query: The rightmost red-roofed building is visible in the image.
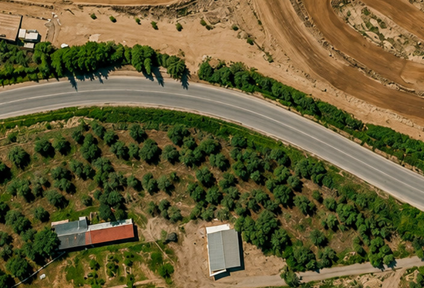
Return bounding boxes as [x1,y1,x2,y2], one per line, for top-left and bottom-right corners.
[86,216,137,244]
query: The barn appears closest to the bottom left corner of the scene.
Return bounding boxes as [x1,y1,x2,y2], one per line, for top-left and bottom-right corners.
[51,215,90,248]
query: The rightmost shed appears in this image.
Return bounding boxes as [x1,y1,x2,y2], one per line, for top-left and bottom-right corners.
[206,222,241,276]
